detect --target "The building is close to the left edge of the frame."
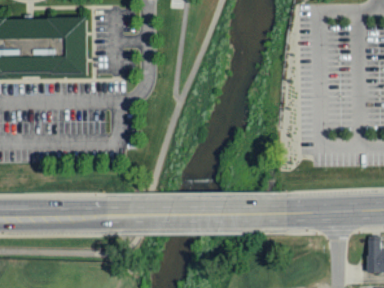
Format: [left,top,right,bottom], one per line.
[0,14,86,80]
